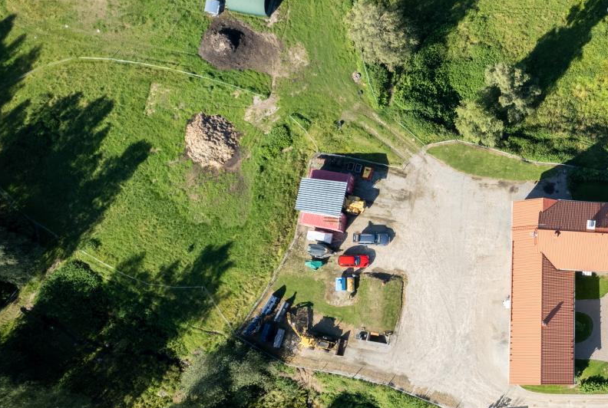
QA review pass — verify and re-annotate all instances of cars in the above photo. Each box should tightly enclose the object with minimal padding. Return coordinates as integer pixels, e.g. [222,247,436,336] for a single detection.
[338,253,372,269]
[350,230,392,247]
